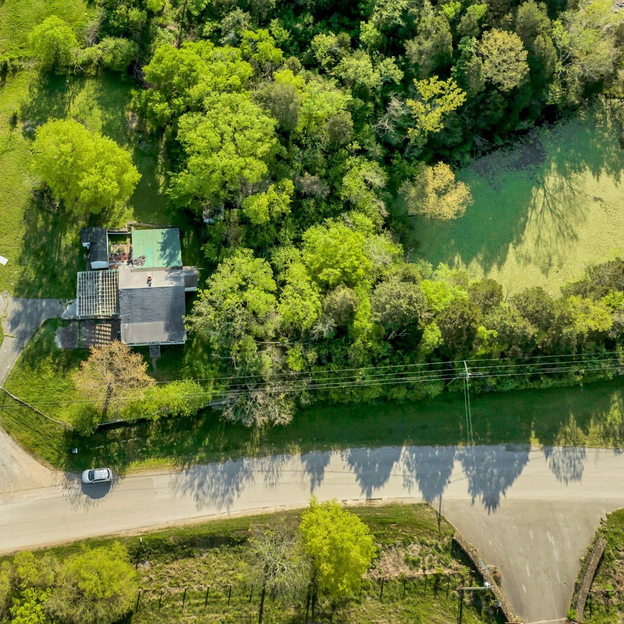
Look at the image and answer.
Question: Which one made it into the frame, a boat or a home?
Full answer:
Visible in the photo is a home.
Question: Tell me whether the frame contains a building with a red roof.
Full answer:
No, no building with a red roof can be seen from above.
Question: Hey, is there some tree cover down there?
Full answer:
Yes, tree cover shows up in the scene.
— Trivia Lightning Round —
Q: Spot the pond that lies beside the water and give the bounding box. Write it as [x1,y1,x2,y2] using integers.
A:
[396,99,624,302]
